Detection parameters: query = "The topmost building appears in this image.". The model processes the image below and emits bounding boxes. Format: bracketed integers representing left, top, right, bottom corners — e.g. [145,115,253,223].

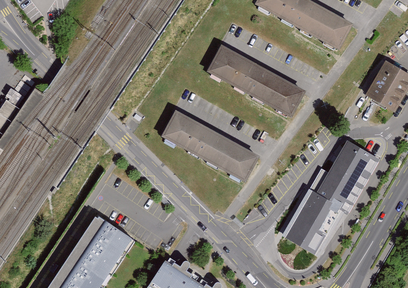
[257,0,352,52]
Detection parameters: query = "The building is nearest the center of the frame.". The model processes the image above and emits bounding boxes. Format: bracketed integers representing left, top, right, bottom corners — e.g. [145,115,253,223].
[162,110,257,184]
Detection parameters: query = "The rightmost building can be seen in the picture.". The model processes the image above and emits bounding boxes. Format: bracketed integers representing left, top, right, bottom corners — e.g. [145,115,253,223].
[367,61,408,112]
